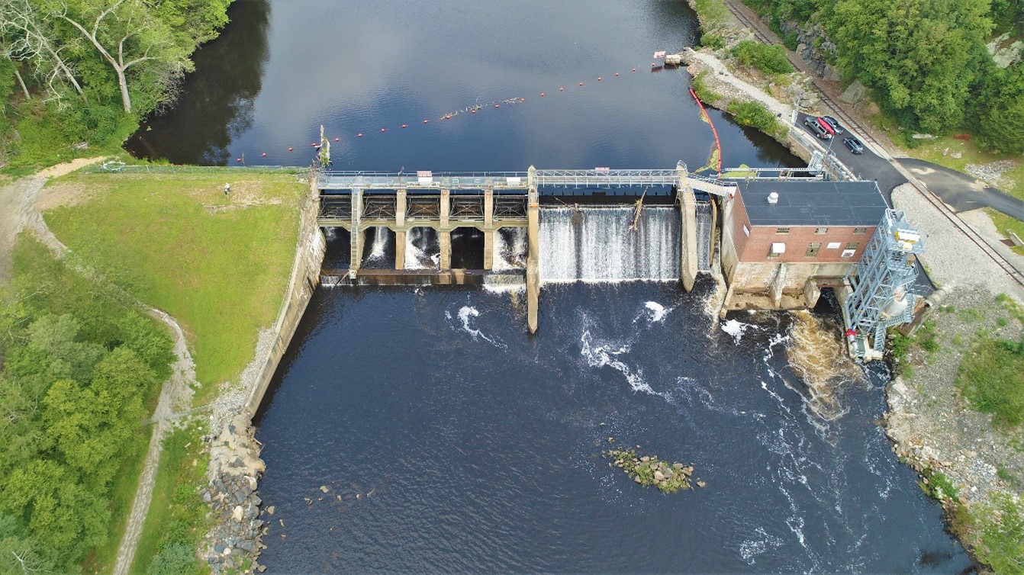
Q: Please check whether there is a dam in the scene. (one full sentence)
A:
Yes, there is a dam in the image.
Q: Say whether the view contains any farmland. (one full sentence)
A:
No, there's no farmland in this view.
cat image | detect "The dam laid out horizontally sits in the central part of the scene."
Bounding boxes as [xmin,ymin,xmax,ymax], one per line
[313,164,722,331]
